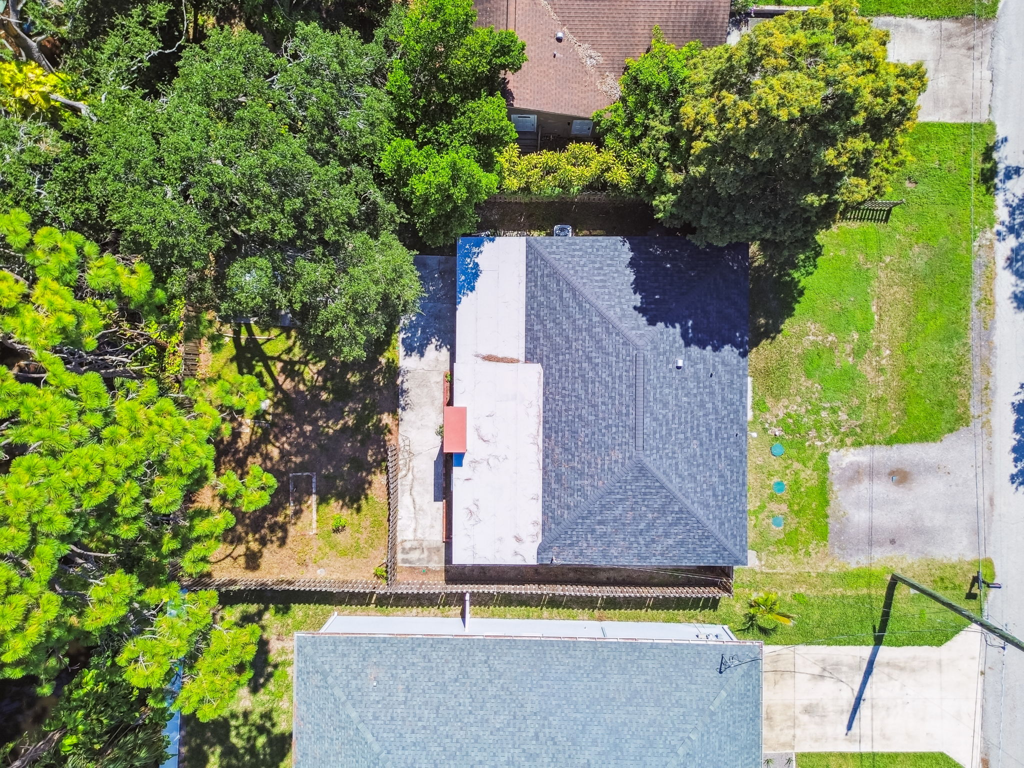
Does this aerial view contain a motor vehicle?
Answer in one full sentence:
No, there's no motor vehicle here.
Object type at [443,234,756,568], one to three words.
house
